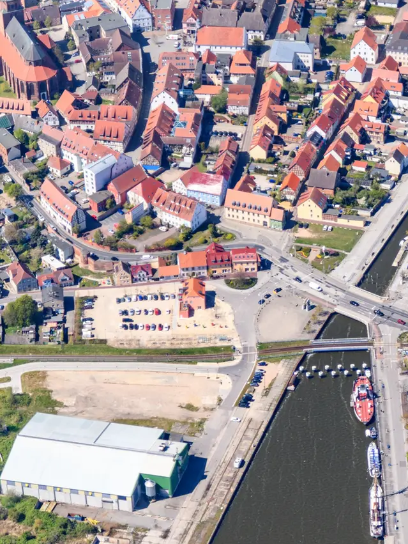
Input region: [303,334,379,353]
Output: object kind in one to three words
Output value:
bridge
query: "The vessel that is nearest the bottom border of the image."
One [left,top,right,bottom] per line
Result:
[369,470,384,544]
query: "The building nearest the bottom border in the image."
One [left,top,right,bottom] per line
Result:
[0,425,181,509]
